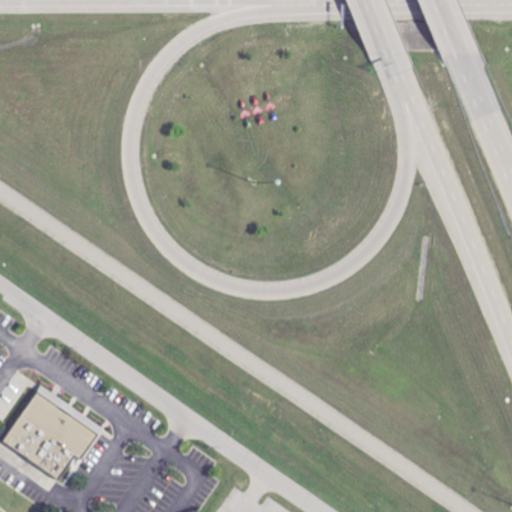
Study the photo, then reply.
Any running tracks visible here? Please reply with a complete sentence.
No, there is no running track in the image.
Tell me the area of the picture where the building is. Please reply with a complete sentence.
You can find the building in the bottom left area of the picture.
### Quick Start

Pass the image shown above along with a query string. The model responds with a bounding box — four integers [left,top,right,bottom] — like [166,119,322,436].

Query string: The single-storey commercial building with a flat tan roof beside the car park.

[0,393,98,480]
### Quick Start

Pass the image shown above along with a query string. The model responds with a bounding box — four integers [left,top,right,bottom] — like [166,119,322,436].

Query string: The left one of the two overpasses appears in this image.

[346,0,412,66]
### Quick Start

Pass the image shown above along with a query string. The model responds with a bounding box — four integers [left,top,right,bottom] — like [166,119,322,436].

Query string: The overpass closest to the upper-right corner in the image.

[418,0,486,66]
